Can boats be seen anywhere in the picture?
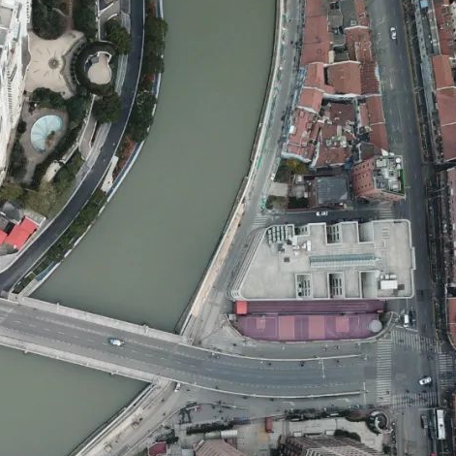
No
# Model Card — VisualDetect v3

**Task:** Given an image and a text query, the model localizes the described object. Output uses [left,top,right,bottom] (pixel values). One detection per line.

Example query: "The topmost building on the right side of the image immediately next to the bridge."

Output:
[225,220,416,300]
